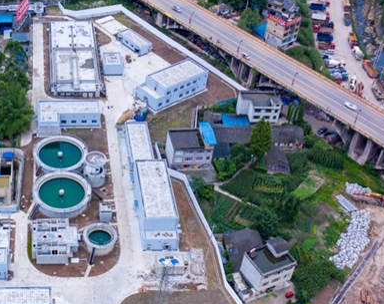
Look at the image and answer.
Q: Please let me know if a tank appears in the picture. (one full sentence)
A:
Yes, a tank is visible in the scene.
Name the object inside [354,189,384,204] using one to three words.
vehicle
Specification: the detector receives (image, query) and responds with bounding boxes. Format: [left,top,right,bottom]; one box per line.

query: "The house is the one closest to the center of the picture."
[166,125,218,170]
